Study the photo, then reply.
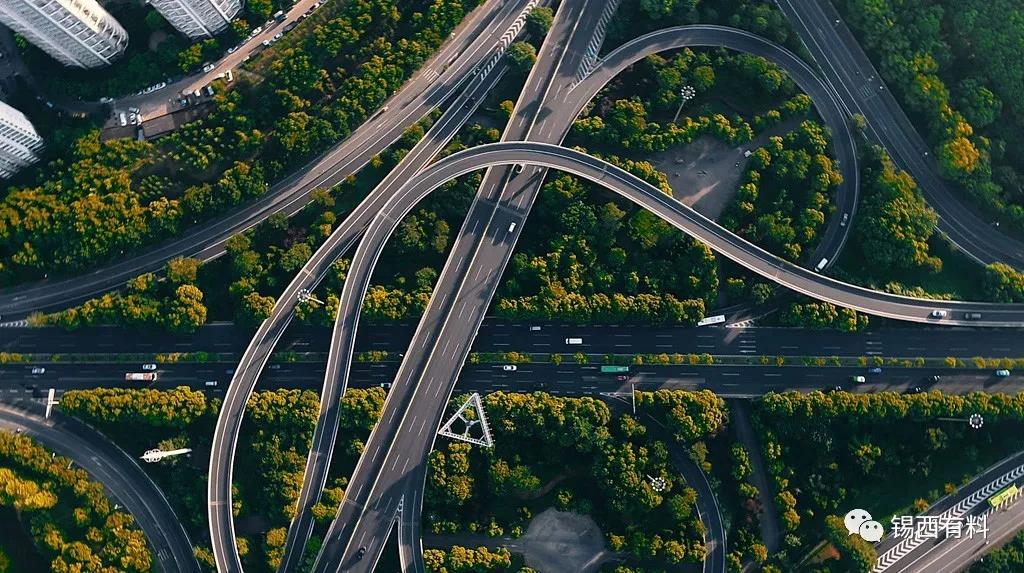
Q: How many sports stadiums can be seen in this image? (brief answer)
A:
0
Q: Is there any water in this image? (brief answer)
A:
No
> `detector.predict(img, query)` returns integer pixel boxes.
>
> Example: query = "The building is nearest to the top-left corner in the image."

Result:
[0,0,129,72]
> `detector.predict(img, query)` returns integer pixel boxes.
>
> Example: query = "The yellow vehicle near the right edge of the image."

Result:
[989,486,1022,507]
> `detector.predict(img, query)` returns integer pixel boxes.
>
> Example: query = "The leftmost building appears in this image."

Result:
[0,102,46,184]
